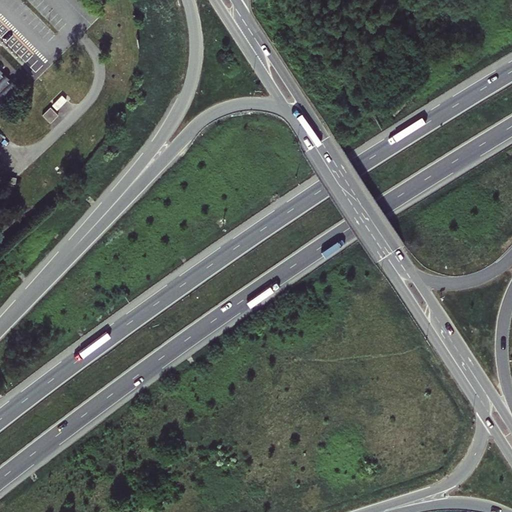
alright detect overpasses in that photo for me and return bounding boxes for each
[306,136,404,262]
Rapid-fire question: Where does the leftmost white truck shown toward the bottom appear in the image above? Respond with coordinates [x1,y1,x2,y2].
[74,333,111,362]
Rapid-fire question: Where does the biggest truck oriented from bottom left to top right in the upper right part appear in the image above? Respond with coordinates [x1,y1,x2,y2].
[388,116,427,144]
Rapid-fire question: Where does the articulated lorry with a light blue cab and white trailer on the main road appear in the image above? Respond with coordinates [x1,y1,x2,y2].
[293,107,322,145]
